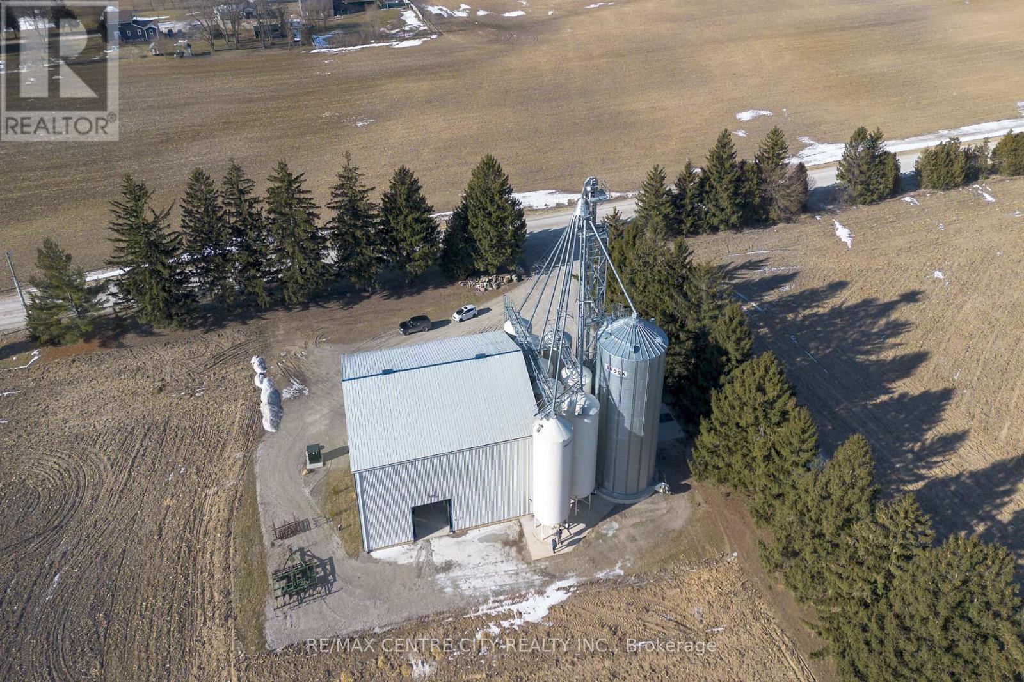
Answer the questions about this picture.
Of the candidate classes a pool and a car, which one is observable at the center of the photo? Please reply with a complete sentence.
Looking at the center of the photo, you will find a car.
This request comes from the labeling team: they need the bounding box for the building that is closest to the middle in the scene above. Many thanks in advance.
[340,329,546,550]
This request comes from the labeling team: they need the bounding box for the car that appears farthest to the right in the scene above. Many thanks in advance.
[452,304,479,321]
